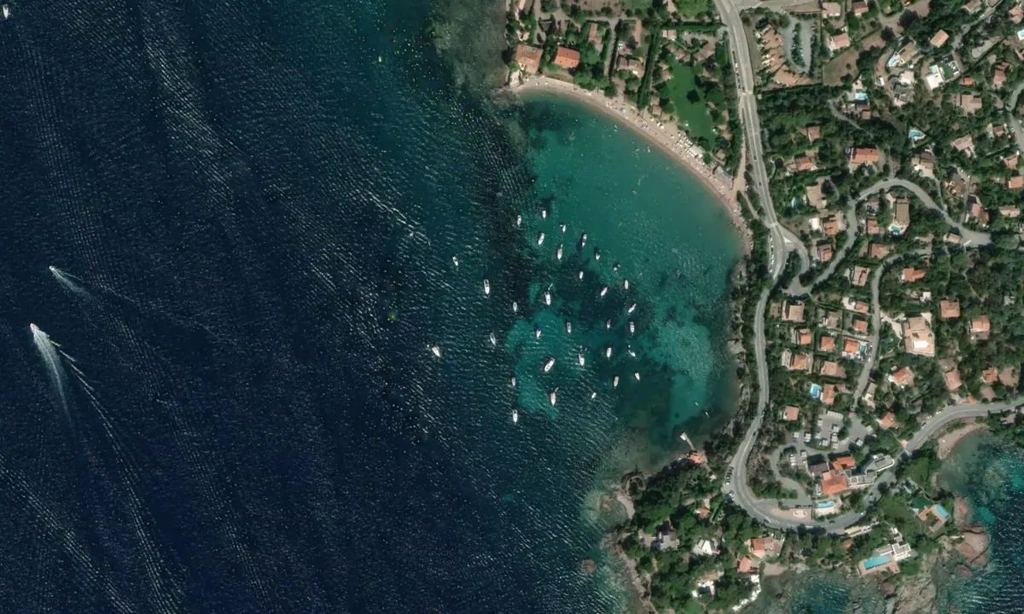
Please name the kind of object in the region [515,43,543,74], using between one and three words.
house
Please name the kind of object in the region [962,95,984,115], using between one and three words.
house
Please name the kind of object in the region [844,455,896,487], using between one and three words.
building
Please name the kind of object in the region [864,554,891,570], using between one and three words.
swimming pool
